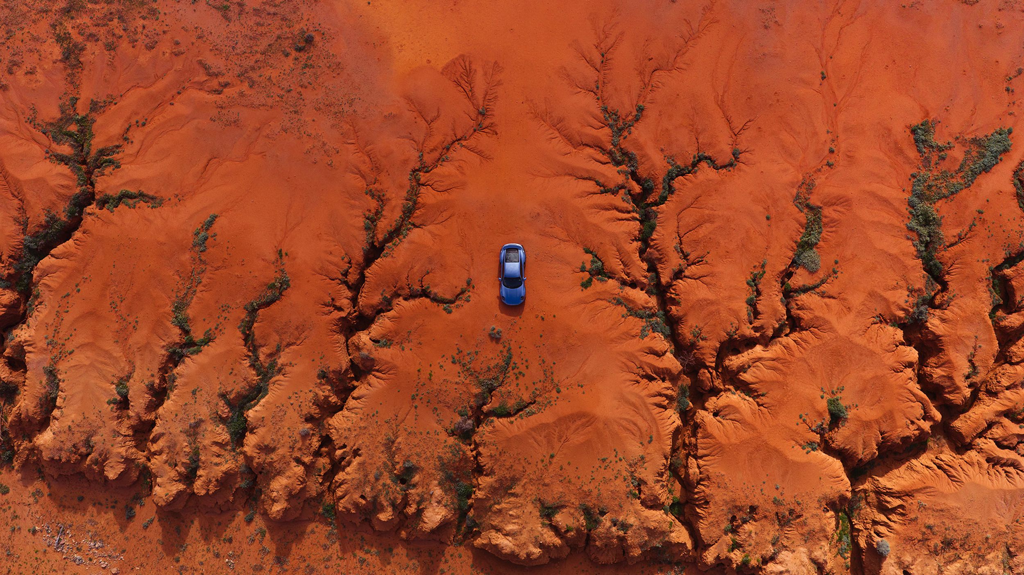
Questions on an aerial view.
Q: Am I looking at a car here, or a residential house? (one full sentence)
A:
Visible in the photo is a car.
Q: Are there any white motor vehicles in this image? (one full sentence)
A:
No, the picture doesn't show any white motor vehicle.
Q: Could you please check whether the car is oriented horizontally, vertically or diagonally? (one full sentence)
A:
What the image shows is the car lying vertically.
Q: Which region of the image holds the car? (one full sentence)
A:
The car is located in the center region of the scene.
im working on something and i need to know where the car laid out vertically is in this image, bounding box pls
[498,243,528,306]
